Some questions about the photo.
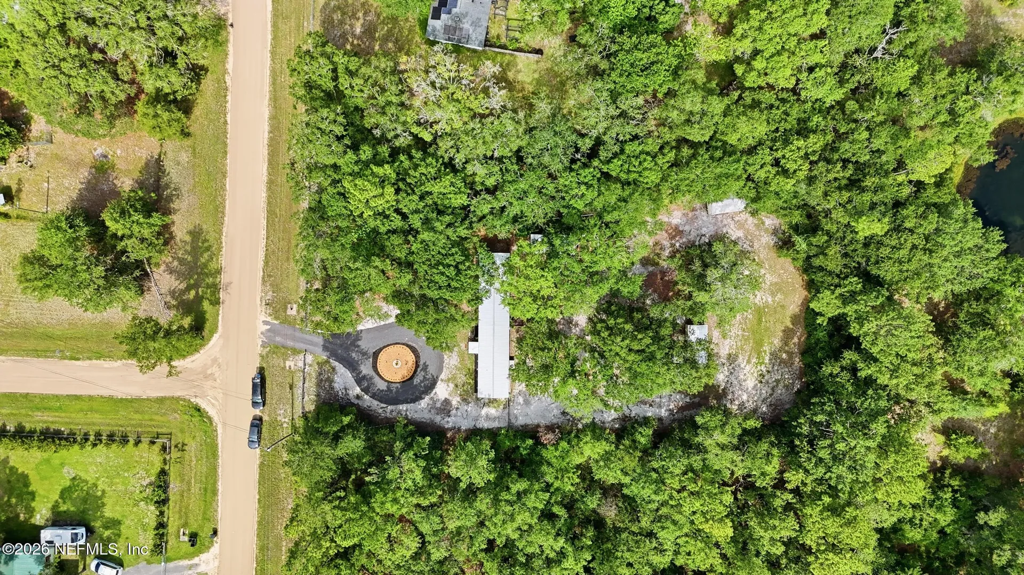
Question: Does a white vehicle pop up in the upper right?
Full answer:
No, looking in the upper right, there is no white vehicle.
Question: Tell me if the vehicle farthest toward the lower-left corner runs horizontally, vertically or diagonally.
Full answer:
What the image shows is the vehicle farthest toward the lower-left corner lying horizontally.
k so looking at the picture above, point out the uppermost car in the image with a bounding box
[250,373,266,408]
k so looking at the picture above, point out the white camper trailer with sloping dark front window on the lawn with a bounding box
[41,524,94,545]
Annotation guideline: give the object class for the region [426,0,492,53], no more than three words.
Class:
house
